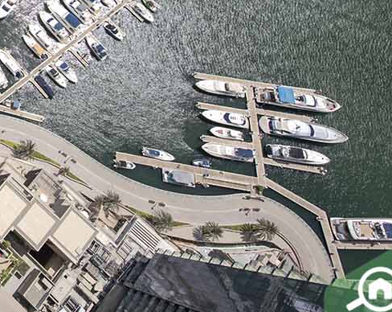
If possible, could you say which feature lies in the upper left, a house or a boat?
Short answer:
boat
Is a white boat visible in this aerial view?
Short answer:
Yes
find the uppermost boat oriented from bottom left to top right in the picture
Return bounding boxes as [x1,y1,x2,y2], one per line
[0,0,19,19]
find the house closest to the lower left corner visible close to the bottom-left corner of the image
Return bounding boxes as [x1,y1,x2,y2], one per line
[21,270,64,309]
